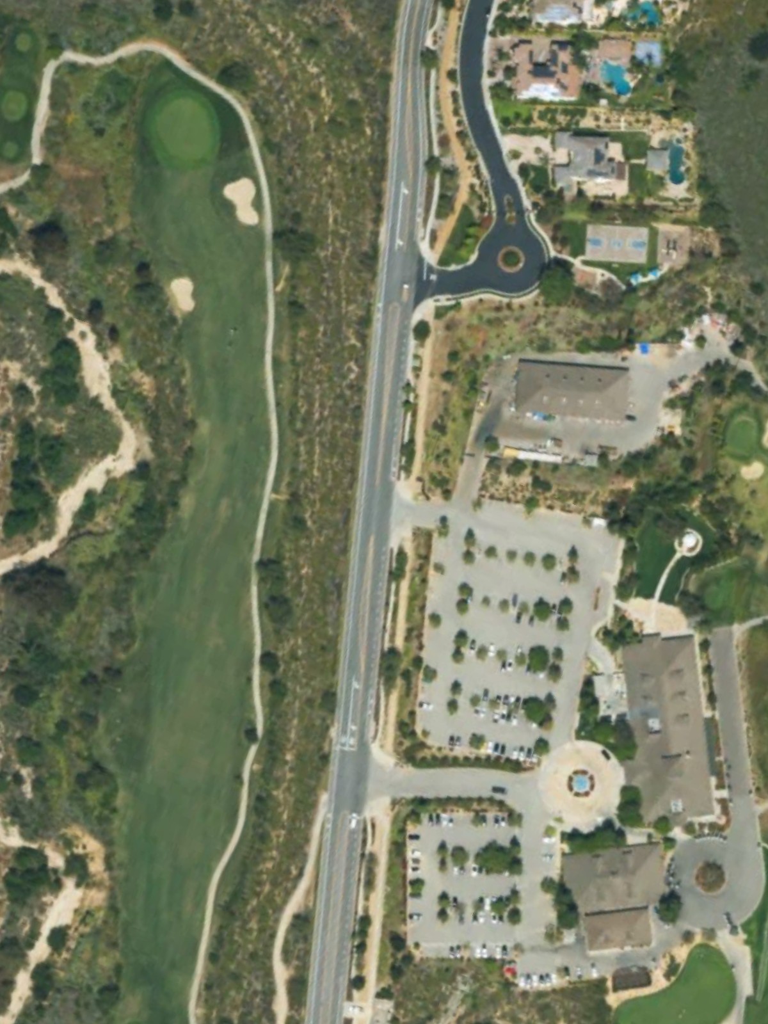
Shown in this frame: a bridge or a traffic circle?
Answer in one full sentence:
Visible in the photo is a traffic circle.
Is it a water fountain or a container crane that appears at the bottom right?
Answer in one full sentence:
Visible at the bottom right is a water fountain.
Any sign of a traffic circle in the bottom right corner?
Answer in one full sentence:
Yes, I can see a traffic circle in the bottom right corner.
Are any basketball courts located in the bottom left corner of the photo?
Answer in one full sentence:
No, no basketball court can be made out in the bottom left corner of the photo.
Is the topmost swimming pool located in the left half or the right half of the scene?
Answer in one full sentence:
The topmost swimming pool appears in the right half of the scene.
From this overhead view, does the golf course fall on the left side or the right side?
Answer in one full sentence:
The golf course is on the left side of the image.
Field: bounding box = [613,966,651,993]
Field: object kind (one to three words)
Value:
shed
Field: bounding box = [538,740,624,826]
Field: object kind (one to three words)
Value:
roundabout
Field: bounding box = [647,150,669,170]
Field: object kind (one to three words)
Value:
building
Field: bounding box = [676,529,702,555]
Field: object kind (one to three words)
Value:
gazebo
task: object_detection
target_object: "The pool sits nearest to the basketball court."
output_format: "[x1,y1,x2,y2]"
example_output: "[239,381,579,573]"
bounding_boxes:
[669,142,685,185]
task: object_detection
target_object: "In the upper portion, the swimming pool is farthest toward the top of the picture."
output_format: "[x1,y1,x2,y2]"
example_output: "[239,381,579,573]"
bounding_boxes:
[629,0,660,26]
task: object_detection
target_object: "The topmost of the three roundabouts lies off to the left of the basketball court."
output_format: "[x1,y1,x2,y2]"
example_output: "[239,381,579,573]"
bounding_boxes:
[483,230,540,287]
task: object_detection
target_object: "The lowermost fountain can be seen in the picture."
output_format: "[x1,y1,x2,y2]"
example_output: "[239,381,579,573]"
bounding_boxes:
[567,770,595,797]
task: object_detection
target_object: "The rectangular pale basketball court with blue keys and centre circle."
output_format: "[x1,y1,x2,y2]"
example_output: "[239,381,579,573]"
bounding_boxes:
[586,225,648,264]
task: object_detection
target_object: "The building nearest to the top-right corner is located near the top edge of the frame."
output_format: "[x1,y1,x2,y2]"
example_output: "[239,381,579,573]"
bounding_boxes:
[635,41,662,66]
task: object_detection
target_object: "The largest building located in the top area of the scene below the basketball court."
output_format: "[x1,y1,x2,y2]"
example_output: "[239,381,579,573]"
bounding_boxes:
[516,362,629,421]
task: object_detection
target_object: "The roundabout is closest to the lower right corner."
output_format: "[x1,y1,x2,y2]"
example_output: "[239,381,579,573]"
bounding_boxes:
[667,812,765,932]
